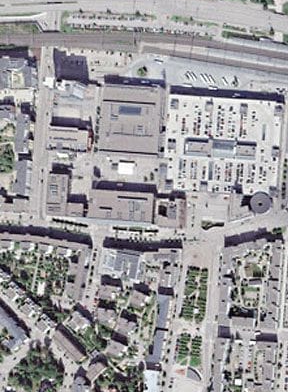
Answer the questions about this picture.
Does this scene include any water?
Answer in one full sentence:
No, the picture contains no water.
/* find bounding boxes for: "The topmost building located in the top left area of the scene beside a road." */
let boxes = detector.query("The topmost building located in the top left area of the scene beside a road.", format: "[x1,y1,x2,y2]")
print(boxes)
[0,60,39,89]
